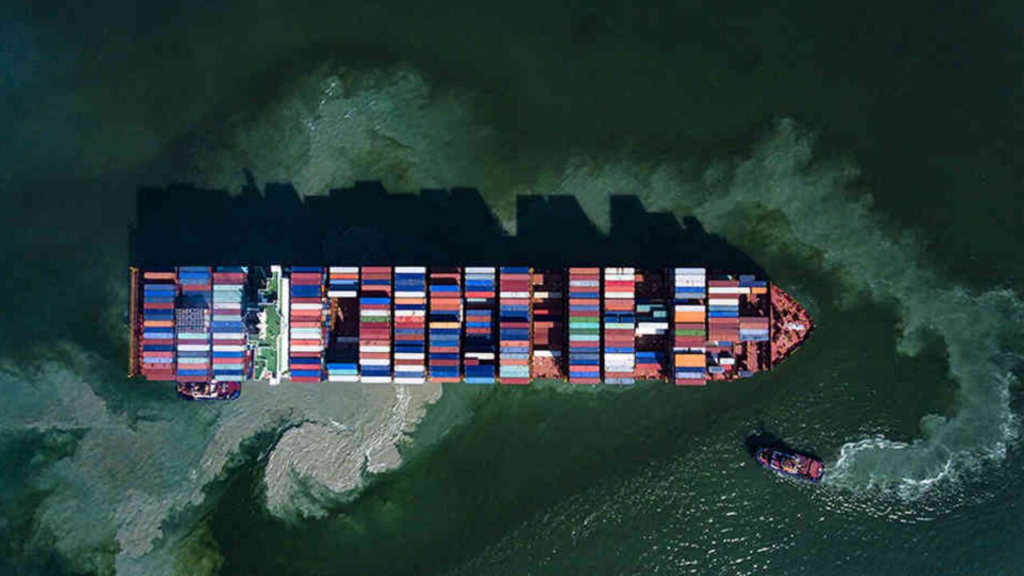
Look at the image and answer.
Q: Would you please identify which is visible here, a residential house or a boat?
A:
boat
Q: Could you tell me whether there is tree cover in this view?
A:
No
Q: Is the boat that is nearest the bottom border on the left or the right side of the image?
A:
right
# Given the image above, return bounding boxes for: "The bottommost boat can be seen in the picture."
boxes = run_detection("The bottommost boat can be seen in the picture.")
[756,448,828,485]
